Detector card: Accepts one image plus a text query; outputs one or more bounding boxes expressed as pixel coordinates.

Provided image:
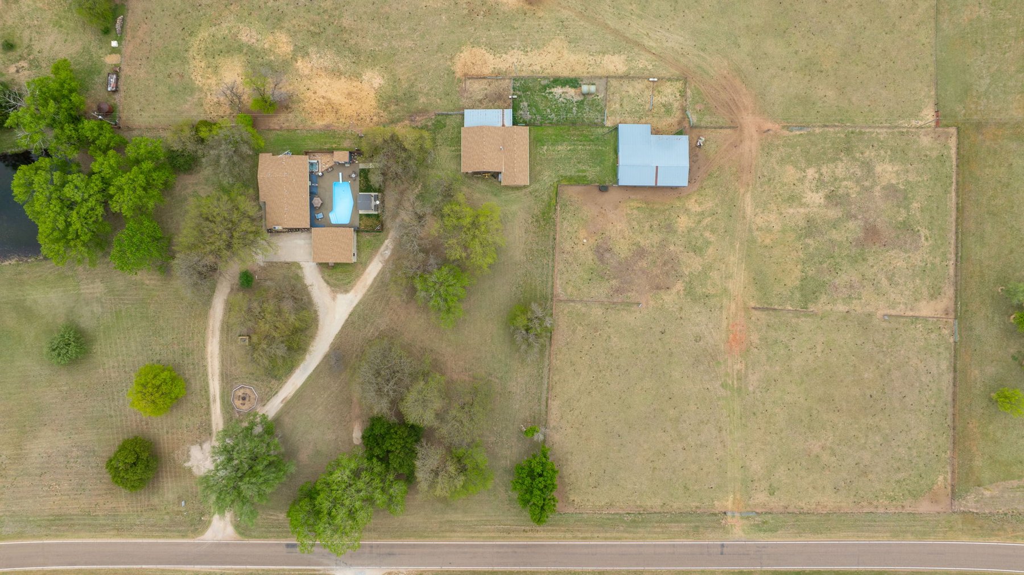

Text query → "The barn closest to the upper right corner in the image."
[616,123,690,187]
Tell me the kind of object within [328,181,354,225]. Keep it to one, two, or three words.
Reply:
swimming pool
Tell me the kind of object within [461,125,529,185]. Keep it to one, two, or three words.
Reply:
shed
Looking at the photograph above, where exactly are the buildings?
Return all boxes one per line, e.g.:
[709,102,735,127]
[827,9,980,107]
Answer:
[358,195,373,210]
[257,153,312,228]
[312,228,356,263]
[616,123,690,187]
[461,125,529,185]
[333,151,351,162]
